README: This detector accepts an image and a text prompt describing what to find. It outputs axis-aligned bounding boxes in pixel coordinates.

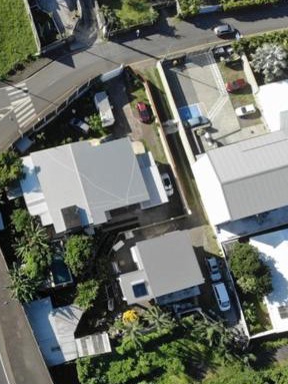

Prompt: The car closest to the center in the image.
[159,173,176,196]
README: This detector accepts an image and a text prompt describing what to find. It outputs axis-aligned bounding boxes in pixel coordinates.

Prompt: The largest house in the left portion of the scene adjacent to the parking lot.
[19,136,169,233]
